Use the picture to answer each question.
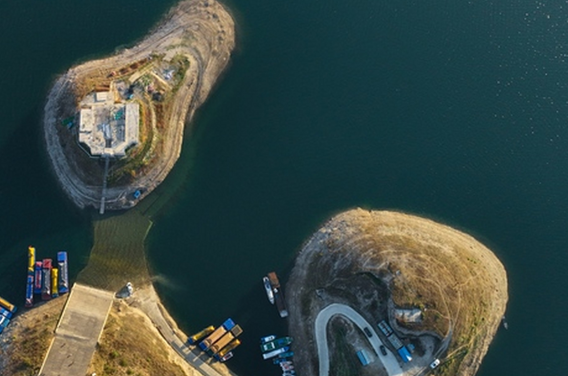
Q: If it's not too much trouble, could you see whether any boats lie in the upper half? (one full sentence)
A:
No, no boat can be made out in the upper half.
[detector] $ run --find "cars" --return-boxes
[364,328,373,339]
[430,359,440,370]
[380,346,387,356]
